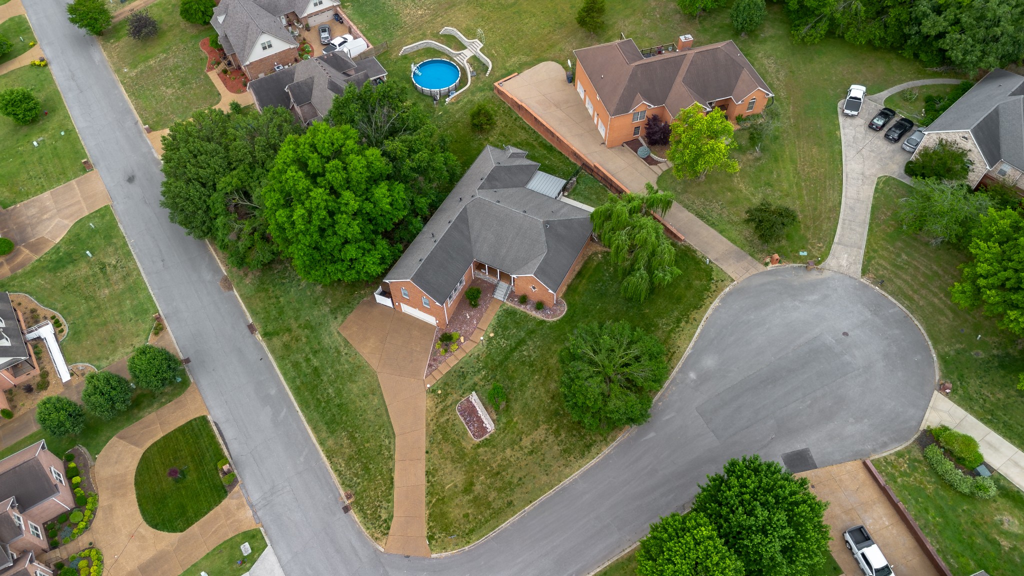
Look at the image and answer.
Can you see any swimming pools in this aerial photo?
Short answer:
Yes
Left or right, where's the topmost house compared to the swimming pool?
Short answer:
on its left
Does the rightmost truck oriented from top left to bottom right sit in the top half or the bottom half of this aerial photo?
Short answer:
bottom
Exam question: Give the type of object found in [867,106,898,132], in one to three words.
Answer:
car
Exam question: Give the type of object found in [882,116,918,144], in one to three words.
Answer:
car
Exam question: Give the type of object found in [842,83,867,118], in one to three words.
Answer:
truck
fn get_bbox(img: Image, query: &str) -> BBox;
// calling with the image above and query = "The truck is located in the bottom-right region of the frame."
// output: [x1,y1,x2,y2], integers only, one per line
[843,522,896,576]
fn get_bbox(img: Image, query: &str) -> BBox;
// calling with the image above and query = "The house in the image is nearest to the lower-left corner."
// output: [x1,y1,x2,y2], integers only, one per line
[0,440,75,576]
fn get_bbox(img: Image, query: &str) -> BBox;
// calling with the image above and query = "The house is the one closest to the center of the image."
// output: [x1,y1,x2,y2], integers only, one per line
[383,145,597,327]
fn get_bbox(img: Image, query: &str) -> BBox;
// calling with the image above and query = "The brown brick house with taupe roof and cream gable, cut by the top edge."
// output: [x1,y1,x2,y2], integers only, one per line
[201,0,341,81]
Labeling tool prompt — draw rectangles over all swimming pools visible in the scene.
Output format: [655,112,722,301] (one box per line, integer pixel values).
[411,59,462,96]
